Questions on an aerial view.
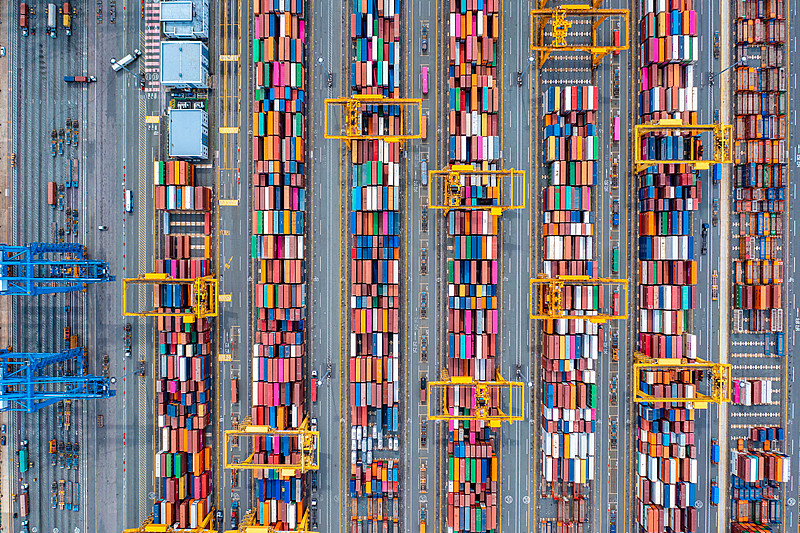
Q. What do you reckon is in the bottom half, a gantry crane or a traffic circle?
gantry crane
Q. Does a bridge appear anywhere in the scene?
No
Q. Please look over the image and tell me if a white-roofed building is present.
No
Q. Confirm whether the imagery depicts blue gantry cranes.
Yes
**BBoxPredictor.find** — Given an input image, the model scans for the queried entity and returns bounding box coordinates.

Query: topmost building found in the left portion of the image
[160,0,209,41]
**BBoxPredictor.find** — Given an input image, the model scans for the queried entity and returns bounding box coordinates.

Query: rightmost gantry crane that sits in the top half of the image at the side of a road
[634,116,734,173]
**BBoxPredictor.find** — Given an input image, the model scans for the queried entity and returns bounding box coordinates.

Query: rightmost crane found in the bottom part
[633,350,732,410]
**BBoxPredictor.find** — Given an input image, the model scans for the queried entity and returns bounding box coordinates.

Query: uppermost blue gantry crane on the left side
[0,238,121,298]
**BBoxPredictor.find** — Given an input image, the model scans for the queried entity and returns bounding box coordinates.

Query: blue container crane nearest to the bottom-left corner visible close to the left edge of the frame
[0,341,121,416]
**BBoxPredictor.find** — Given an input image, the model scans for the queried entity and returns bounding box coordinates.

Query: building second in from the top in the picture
[161,41,208,88]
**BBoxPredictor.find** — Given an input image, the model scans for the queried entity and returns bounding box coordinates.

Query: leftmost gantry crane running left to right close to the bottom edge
[123,506,217,533]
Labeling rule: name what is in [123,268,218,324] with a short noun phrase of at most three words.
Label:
container crane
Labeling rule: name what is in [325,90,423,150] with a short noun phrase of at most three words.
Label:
container crane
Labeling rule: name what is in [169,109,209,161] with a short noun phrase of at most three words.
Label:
building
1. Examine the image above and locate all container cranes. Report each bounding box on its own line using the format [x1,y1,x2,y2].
[530,270,629,327]
[0,238,121,298]
[123,268,218,324]
[428,367,524,428]
[225,506,318,533]
[633,350,732,410]
[224,413,319,478]
[325,90,423,150]
[429,164,525,216]
[634,116,734,173]
[0,341,121,416]
[123,506,217,533]
[530,4,630,67]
